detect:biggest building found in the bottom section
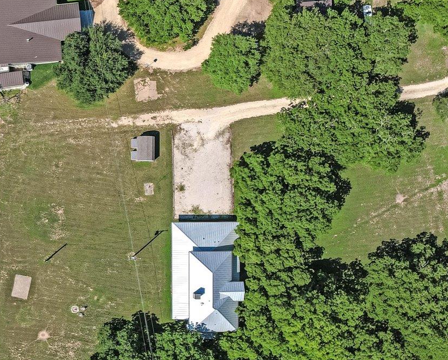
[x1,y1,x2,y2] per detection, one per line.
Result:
[171,222,244,332]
